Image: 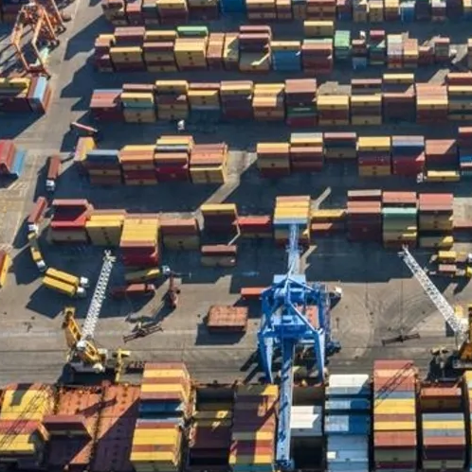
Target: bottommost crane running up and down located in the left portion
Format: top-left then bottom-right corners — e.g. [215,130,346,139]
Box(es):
[69,254,117,384]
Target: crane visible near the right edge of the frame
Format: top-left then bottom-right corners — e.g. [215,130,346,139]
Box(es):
[398,249,472,380]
